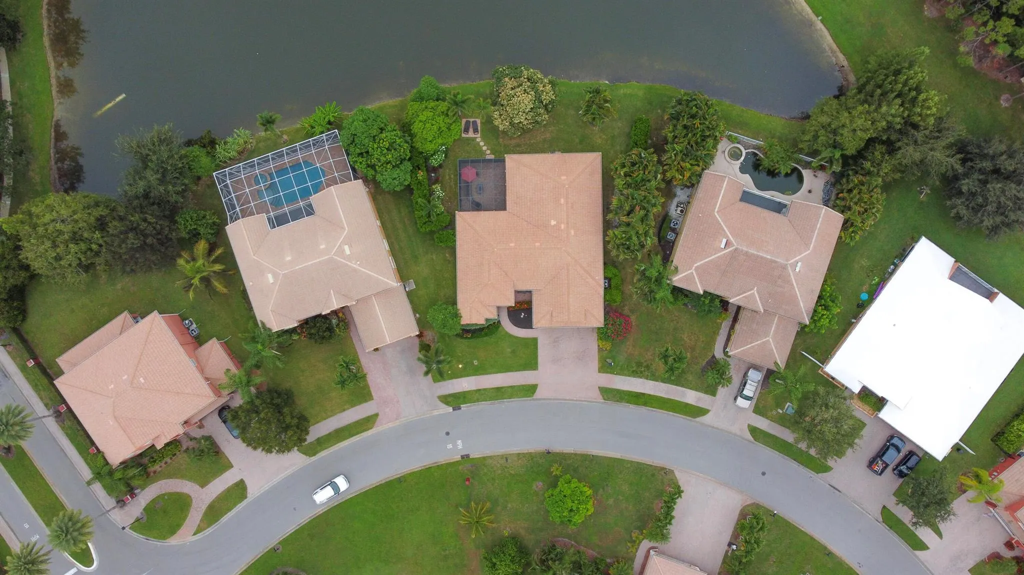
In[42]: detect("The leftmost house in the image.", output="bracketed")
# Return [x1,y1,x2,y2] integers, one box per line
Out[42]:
[53,309,250,469]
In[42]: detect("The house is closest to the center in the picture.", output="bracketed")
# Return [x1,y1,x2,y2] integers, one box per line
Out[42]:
[455,152,605,329]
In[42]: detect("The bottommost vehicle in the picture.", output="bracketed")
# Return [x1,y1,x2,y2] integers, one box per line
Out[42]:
[311,475,352,506]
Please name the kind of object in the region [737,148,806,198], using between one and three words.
swimming pool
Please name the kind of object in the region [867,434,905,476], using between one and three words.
truck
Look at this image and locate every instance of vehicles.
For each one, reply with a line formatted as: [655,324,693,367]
[734,367,763,408]
[892,448,922,479]
[311,475,352,506]
[867,434,905,476]
[218,406,239,441]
